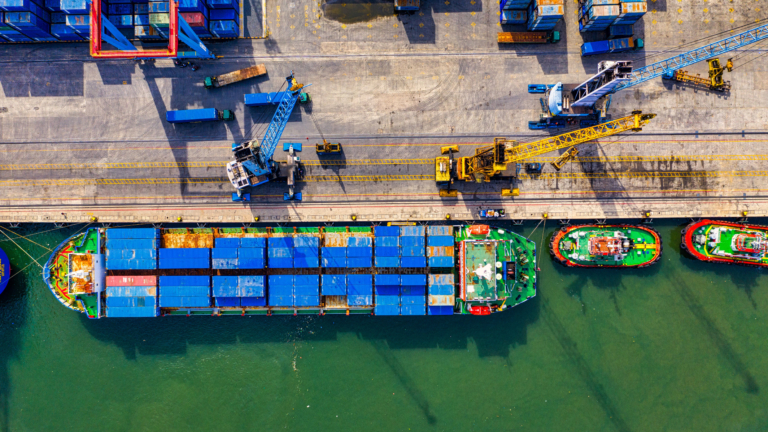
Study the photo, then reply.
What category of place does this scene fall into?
port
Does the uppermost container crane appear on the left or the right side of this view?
left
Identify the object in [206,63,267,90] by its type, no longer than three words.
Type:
truck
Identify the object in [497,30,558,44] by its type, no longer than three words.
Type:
vehicle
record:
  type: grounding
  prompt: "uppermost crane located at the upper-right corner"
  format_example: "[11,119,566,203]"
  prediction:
[527,19,768,129]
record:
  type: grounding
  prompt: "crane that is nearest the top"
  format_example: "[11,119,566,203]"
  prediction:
[92,0,227,60]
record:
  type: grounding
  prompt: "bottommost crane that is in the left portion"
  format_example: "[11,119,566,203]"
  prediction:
[219,65,336,201]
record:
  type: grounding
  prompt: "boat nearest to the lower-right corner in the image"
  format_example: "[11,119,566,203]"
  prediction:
[678,218,768,271]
